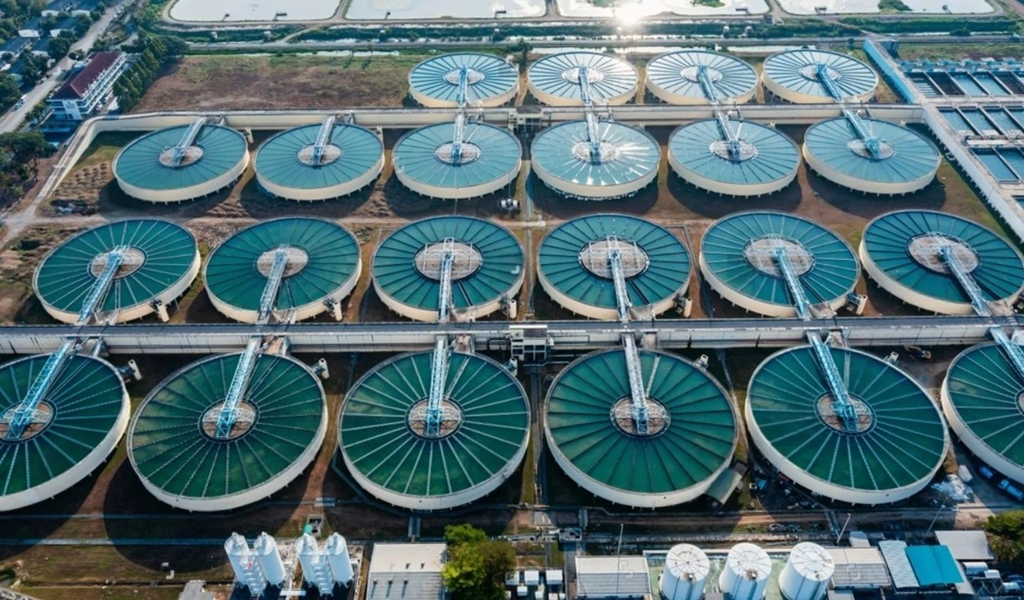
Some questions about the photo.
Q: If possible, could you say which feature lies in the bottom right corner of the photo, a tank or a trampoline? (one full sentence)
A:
The feature located in the bottom right corner of the photo is a tank.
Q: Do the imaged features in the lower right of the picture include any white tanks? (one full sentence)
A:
Yes, a white tank appears in the lower right of the picture.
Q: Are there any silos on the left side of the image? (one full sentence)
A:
Yes, the scene does show a silo on the left side of the image.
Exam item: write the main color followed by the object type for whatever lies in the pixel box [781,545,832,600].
white storage tank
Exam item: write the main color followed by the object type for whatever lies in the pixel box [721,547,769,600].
white storage tank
